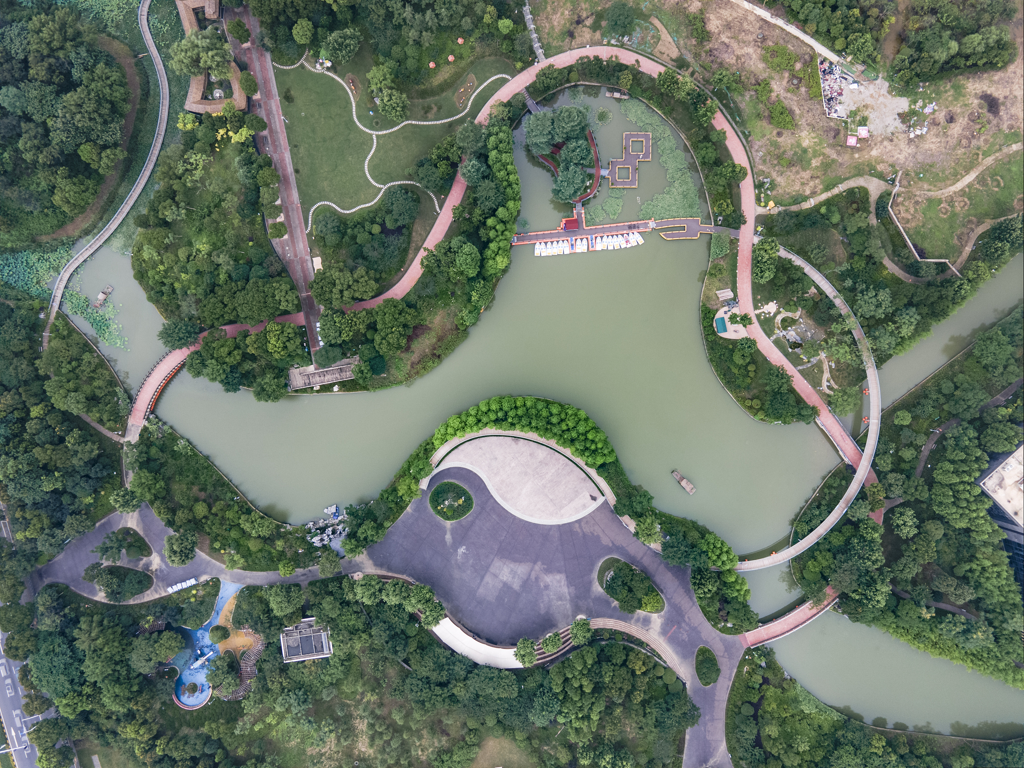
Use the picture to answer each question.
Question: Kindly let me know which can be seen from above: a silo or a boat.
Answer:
boat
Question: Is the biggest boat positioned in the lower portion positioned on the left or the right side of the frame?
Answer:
right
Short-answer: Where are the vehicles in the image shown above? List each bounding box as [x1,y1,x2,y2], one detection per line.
[177,581,183,590]
[172,583,178,591]
[13,708,26,728]
[181,580,187,588]
[167,585,174,593]
[191,576,199,585]
[20,734,33,754]
[186,578,192,586]
[0,656,11,676]
[4,677,17,697]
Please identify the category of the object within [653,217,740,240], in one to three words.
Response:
pier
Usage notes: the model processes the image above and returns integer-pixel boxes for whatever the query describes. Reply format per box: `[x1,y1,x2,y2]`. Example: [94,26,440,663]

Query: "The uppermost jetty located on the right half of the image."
[604,132,652,188]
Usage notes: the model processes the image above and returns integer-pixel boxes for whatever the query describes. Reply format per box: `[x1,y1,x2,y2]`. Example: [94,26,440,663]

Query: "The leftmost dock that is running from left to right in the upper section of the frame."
[513,208,652,253]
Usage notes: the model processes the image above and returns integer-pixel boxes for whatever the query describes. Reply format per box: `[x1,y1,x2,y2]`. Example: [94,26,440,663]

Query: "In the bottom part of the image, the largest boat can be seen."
[673,468,694,494]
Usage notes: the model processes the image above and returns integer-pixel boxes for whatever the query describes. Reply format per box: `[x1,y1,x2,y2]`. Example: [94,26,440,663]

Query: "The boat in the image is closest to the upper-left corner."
[94,286,112,307]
